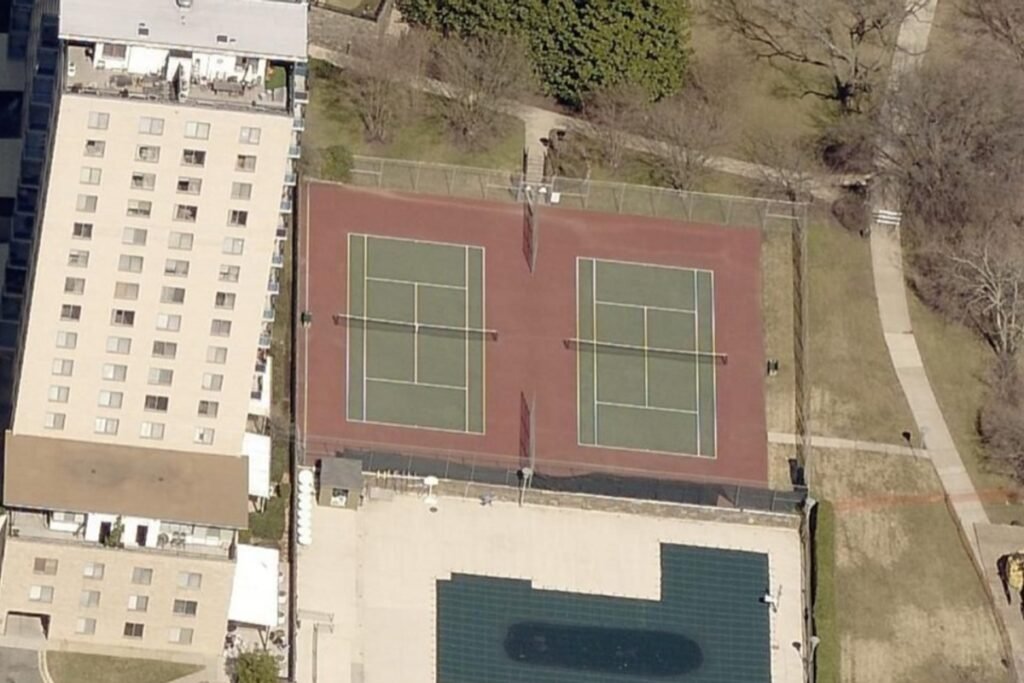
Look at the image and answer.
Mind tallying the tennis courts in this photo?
2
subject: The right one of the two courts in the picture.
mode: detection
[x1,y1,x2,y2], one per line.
[531,204,766,511]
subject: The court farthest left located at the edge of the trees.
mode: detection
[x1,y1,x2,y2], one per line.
[300,181,531,488]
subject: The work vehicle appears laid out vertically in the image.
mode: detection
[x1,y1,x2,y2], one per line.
[1004,554,1024,595]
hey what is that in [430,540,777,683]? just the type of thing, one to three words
swimming pool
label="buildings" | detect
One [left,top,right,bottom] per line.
[0,0,308,656]
[318,459,361,509]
